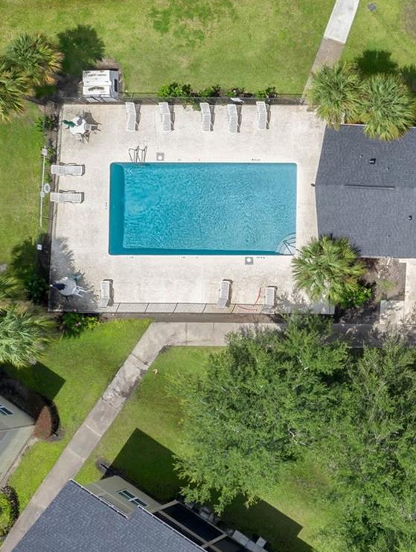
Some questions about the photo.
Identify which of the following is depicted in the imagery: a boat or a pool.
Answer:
pool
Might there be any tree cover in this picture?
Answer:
Yes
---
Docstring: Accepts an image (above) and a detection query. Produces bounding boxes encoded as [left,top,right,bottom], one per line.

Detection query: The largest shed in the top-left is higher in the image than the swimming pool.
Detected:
[79,69,116,99]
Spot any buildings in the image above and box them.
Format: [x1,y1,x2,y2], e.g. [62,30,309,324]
[308,124,416,260]
[79,69,116,99]
[1,471,249,552]
[0,399,37,468]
